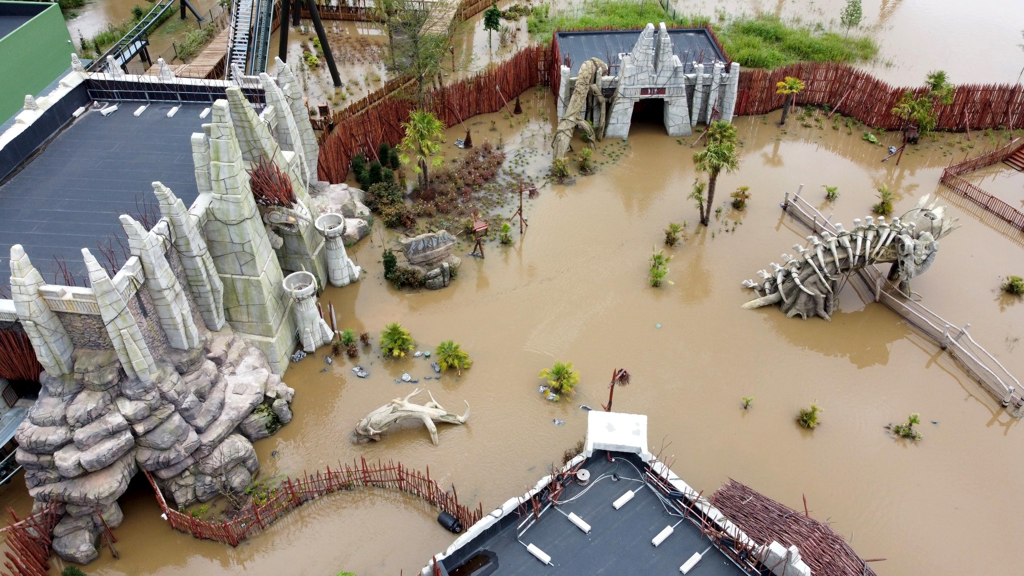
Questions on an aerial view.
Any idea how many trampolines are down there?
none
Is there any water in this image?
Yes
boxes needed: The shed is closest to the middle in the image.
[471,216,491,257]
